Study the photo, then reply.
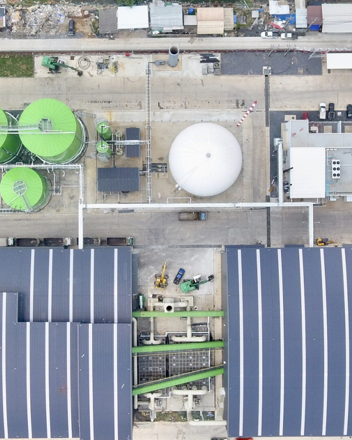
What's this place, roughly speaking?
industrial area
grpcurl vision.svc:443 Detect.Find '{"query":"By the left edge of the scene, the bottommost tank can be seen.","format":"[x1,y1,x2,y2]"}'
[0,166,51,211]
